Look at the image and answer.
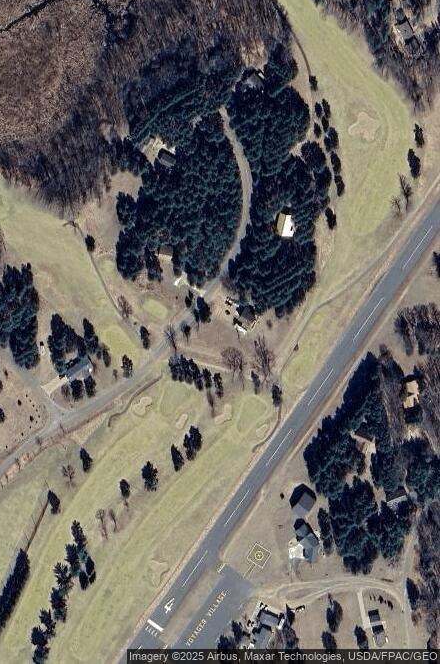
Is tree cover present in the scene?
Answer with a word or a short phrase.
Yes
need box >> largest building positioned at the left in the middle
[63,356,92,380]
